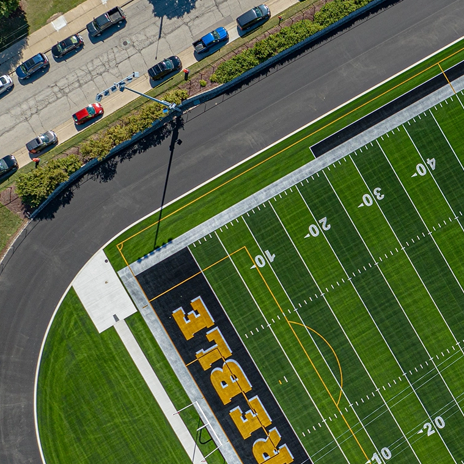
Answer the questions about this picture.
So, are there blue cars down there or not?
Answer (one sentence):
Yes, the picture does show a blue car.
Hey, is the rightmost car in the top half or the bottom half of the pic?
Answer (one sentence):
Seen from above, the rightmost car lies in the top half of the view.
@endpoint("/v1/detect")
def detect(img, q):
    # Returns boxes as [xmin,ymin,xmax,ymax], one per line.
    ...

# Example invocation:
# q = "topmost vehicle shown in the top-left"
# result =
[87,5,129,37]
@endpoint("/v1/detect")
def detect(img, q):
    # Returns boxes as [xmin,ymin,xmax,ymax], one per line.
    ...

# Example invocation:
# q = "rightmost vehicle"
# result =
[235,3,272,31]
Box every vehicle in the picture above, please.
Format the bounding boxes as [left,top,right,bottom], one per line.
[148,55,182,80]
[24,129,61,156]
[191,25,229,55]
[71,101,105,126]
[52,32,86,58]
[0,156,18,178]
[0,74,17,95]
[16,53,50,79]
[87,5,129,37]
[235,3,272,31]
